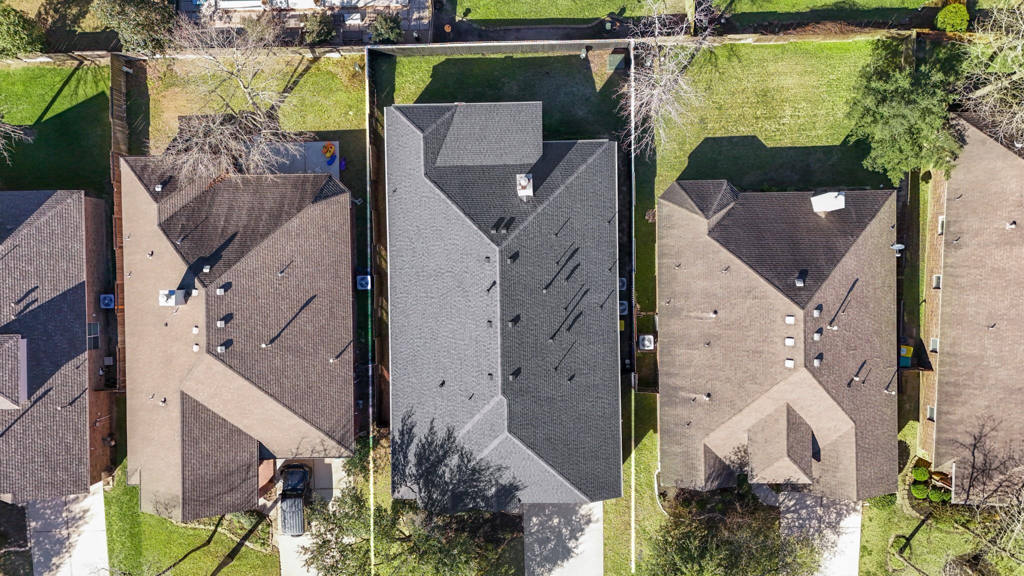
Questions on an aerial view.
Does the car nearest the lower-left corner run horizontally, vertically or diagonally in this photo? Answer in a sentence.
Seen from above, the car nearest the lower-left corner lies vertically.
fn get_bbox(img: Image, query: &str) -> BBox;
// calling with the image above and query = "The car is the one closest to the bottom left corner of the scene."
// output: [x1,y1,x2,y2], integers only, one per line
[278,463,315,537]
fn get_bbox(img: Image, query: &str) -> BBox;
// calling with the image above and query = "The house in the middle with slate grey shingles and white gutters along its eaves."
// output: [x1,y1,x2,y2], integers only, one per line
[382,100,625,515]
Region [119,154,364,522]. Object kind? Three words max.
house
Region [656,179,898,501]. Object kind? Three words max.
house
